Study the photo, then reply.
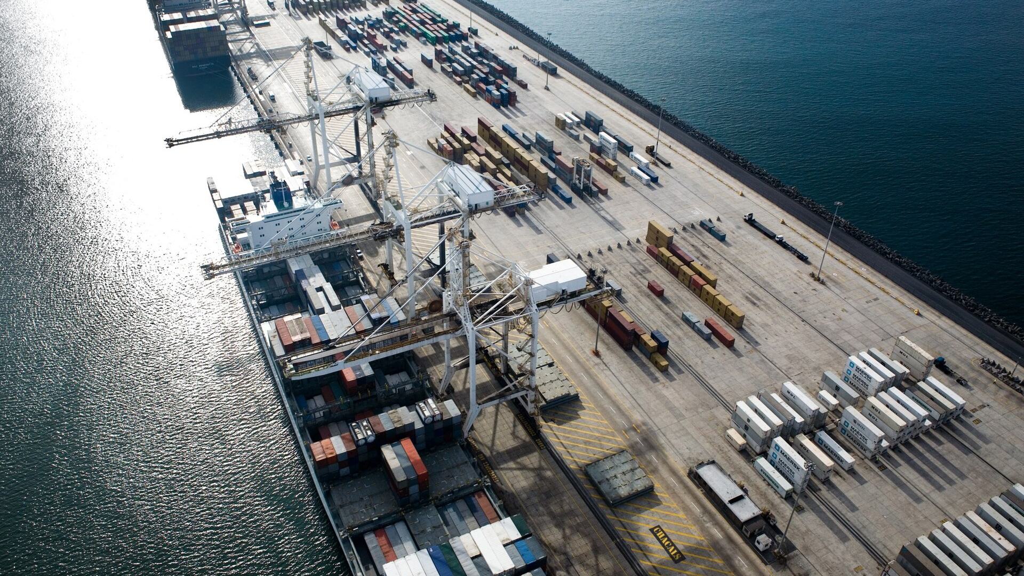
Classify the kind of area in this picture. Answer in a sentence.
It's a port.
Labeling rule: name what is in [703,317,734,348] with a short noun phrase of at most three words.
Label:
shipping container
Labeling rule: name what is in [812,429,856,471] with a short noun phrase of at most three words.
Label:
shipping container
